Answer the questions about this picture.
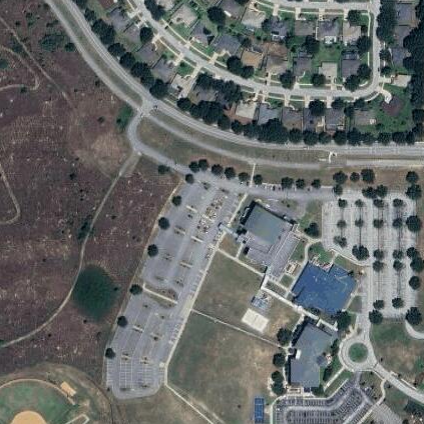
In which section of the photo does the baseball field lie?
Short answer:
bottom left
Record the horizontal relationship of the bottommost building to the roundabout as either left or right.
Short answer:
on its left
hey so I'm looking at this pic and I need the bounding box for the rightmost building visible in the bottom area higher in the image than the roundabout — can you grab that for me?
[292,263,357,314]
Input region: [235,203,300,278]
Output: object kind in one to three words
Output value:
building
